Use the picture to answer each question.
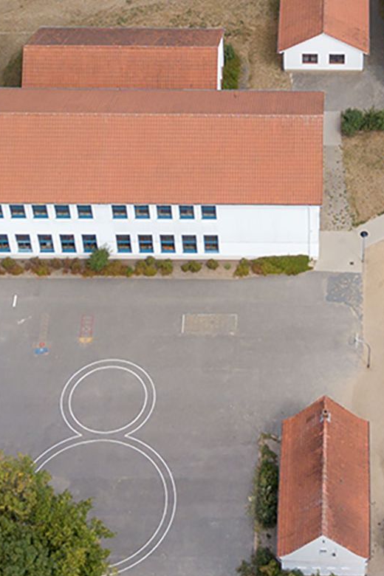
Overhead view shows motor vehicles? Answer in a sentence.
No, the photo shows no motor vehicle.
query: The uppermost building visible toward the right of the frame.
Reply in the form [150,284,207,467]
[277,0,370,70]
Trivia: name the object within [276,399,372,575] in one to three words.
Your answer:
shed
